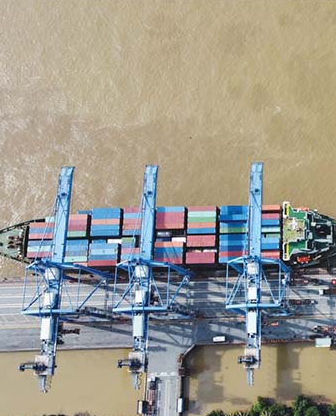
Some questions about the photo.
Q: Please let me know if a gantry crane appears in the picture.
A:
Yes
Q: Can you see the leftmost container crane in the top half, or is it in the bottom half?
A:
bottom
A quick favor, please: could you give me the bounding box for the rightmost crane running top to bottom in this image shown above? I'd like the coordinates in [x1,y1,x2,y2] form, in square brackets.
[225,162,297,386]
